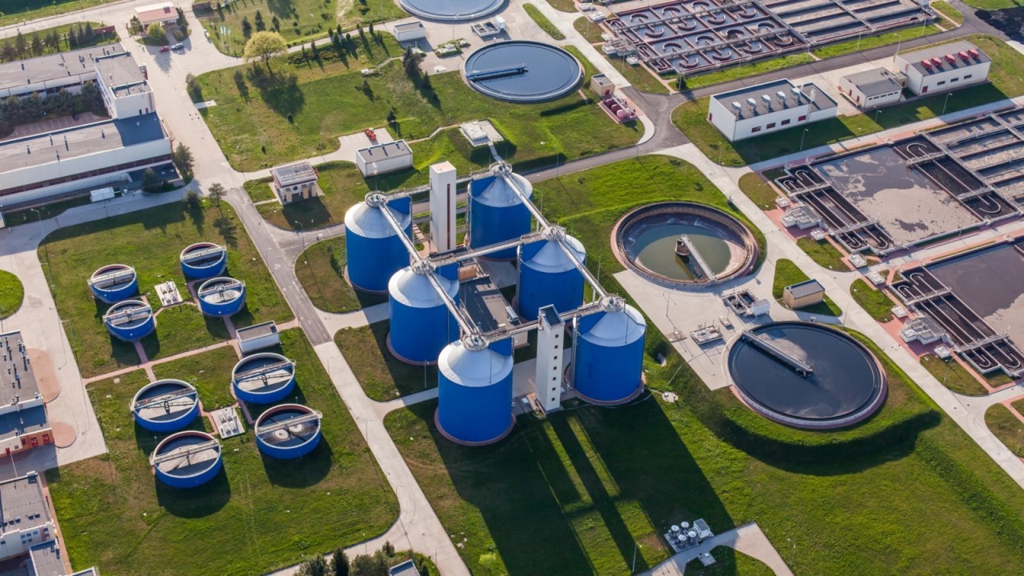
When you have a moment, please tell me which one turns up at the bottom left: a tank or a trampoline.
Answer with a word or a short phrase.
tank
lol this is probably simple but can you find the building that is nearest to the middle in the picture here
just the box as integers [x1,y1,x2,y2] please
[458,275,530,348]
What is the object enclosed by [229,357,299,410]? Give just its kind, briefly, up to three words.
storage tank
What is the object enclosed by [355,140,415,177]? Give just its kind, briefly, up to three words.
house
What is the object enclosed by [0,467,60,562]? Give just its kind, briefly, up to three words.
building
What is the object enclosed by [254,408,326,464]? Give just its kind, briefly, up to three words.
storage tank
